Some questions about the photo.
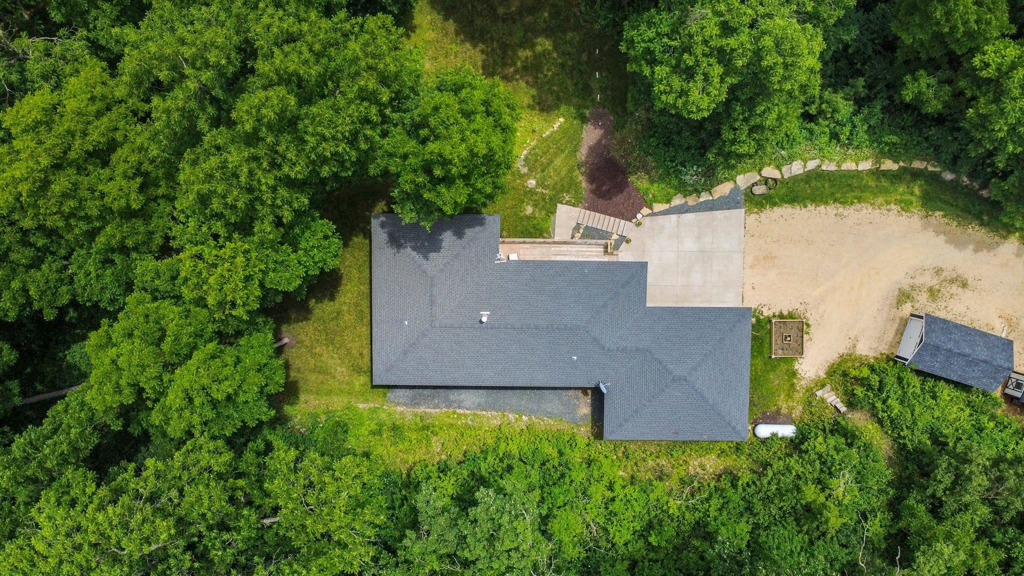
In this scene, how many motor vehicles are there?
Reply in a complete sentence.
I count no motor vehicles.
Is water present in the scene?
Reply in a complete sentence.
No, no water is visible.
